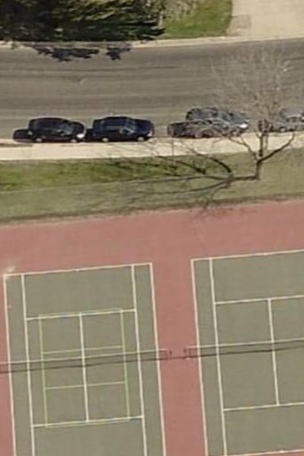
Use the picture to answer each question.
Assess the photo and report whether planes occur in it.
No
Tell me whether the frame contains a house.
No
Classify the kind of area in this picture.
sports ground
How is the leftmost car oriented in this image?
from side to side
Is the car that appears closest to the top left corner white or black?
black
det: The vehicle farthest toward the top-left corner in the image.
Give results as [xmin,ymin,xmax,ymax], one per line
[26,113,86,140]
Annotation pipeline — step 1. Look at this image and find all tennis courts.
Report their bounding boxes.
[165,198,304,456]
[0,210,183,456]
